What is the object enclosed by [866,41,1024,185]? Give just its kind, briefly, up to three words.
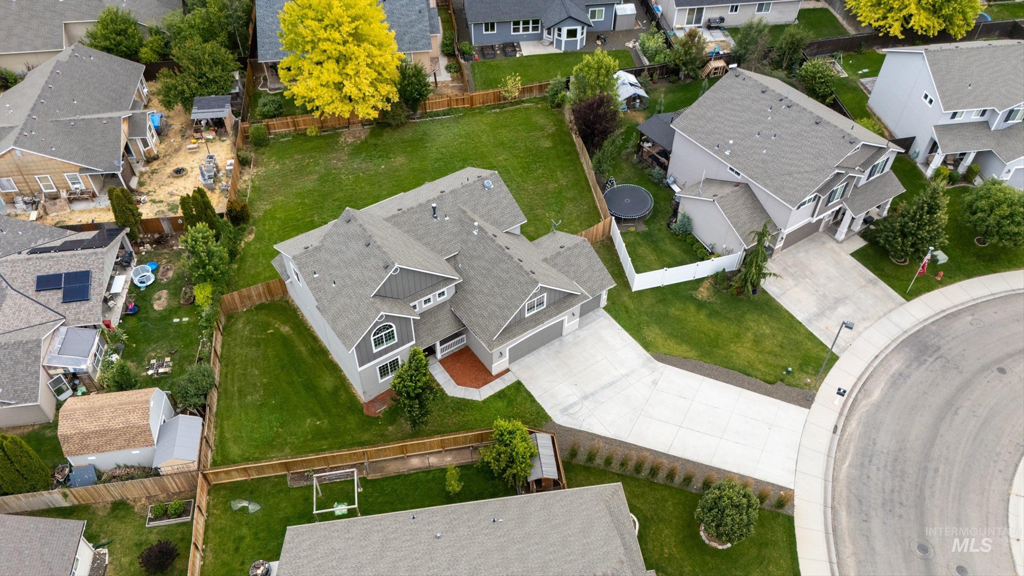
house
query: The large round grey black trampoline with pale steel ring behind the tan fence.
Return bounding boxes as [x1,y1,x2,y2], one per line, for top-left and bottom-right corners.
[604,185,654,223]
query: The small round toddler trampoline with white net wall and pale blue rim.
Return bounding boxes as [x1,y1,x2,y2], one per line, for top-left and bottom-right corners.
[127,264,157,291]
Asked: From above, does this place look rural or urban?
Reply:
urban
